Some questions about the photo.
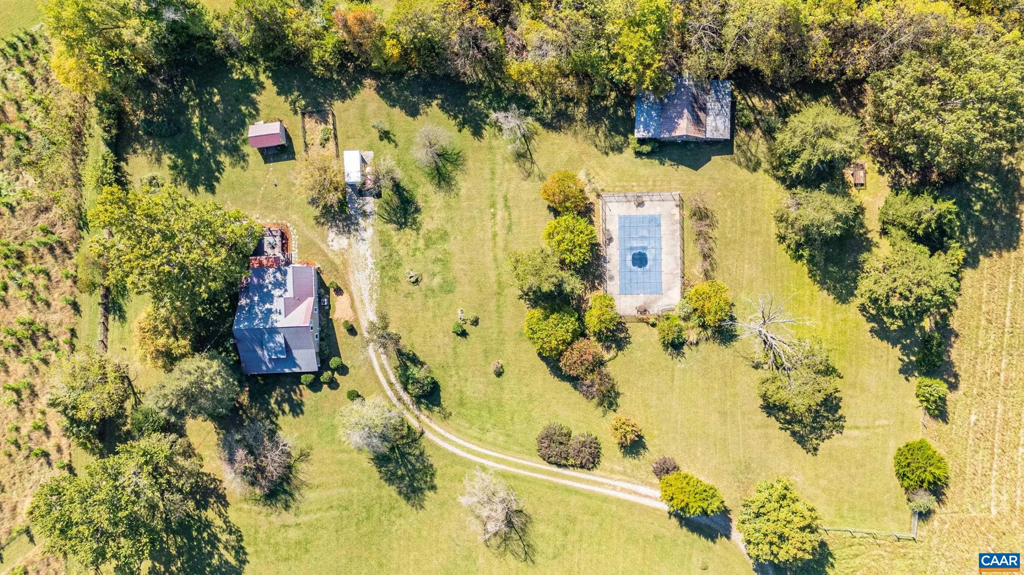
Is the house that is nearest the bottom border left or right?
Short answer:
left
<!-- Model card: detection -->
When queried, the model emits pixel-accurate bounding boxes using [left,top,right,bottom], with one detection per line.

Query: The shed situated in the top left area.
[242,119,284,155]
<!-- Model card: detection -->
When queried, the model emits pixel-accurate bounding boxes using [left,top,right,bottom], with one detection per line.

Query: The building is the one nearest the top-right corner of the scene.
[632,72,728,141]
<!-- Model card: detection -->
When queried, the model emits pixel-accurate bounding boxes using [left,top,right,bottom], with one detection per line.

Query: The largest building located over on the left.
[231,256,323,375]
